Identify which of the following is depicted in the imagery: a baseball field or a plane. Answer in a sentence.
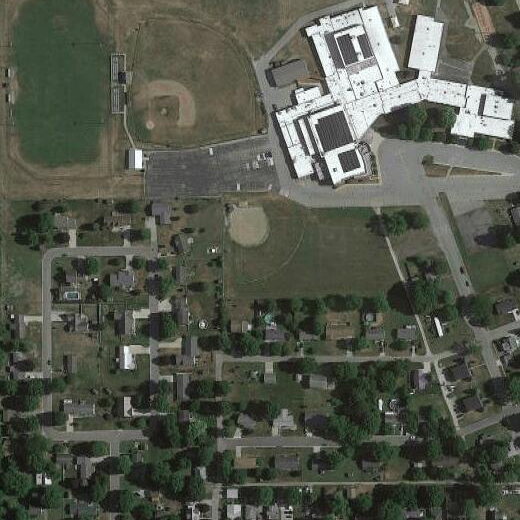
The image shows a baseball field.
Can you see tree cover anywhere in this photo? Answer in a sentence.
Yes, there is tree cover in the image.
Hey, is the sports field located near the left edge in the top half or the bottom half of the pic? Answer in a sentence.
The top half of the photo is where the sports field located near the left edge is.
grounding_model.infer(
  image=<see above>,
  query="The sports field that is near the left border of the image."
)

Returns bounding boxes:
[14,0,110,166]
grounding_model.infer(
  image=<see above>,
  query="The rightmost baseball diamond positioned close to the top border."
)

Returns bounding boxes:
[129,19,254,144]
